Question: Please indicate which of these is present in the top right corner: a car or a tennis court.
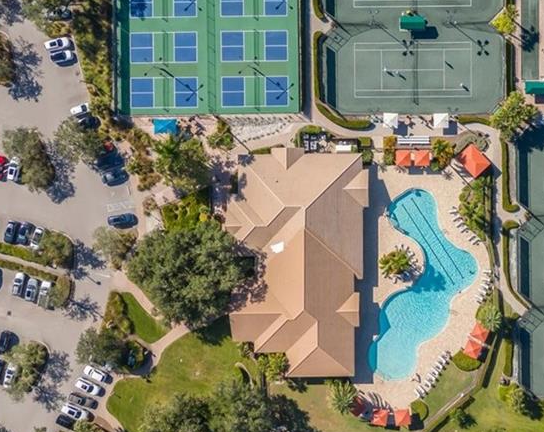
tennis court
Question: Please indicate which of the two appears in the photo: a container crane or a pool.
pool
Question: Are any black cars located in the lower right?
No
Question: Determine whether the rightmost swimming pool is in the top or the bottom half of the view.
bottom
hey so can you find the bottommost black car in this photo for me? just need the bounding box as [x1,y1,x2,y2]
[55,413,80,429]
